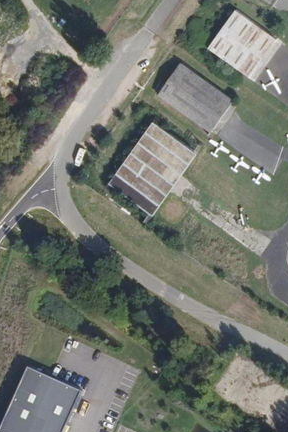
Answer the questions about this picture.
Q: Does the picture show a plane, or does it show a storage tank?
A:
plane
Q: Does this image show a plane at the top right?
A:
Yes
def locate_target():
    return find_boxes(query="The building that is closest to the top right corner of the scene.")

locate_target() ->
[208,10,288,84]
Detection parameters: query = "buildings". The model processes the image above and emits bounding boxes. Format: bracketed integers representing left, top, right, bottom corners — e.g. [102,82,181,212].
[110,123,196,218]
[208,10,288,84]
[158,64,232,135]
[0,367,85,432]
